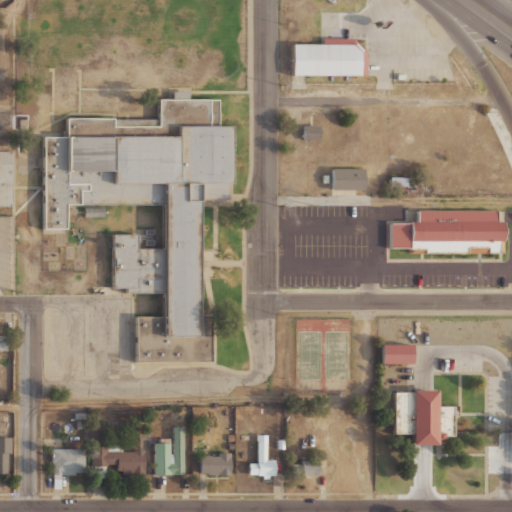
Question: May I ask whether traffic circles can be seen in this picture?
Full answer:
No, there is no traffic circle in the image.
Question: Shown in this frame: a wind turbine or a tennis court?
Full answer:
The one in the frame is a tennis court.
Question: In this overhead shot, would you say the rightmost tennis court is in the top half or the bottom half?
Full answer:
The rightmost tennis court sits in the bottom half of the picture.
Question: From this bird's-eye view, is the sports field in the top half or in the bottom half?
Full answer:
The sports field sits in the top half of the picture.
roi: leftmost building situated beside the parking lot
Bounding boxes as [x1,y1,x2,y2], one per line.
[42,91,236,362]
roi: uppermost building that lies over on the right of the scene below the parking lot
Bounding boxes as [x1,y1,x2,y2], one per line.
[384,344,418,365]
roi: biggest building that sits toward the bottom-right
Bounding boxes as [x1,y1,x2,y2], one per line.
[394,392,458,446]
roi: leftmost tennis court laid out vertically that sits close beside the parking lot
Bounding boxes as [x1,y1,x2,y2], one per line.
[297,319,324,390]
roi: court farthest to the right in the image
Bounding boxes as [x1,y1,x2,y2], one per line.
[324,319,350,390]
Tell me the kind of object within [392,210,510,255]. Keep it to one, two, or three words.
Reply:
building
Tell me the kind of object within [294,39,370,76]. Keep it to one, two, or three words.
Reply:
building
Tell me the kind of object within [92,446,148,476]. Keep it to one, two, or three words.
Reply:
house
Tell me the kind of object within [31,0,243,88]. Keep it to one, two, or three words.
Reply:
sports field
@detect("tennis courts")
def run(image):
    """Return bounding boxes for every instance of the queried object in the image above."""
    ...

[324,319,350,390]
[297,319,324,390]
